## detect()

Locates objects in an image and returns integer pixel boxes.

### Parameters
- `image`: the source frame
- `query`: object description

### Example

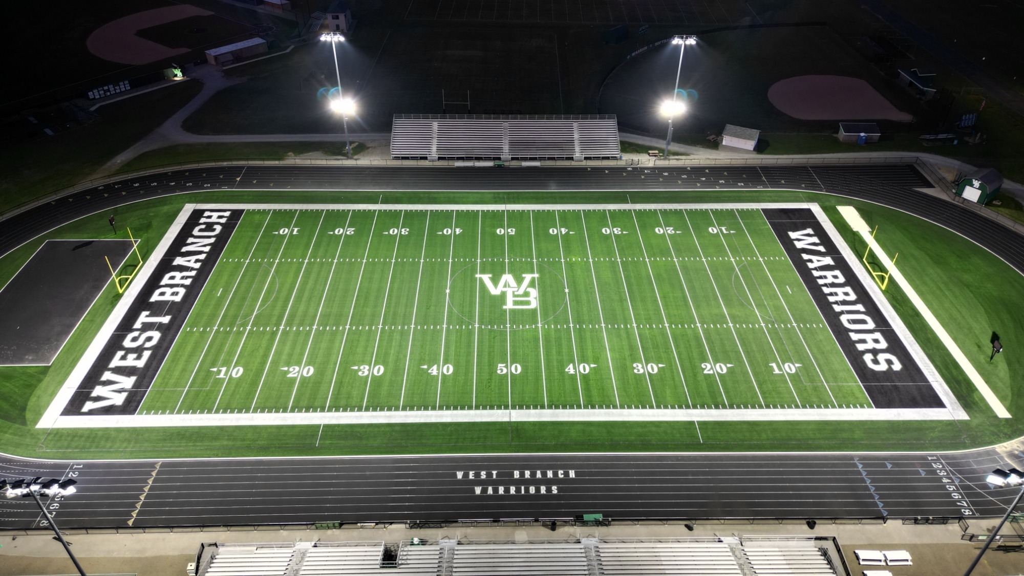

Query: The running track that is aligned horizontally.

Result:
[0,163,1024,533]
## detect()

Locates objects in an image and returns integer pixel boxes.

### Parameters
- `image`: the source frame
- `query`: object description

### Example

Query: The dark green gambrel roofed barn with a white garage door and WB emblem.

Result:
[957,167,1006,207]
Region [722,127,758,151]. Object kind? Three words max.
shed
